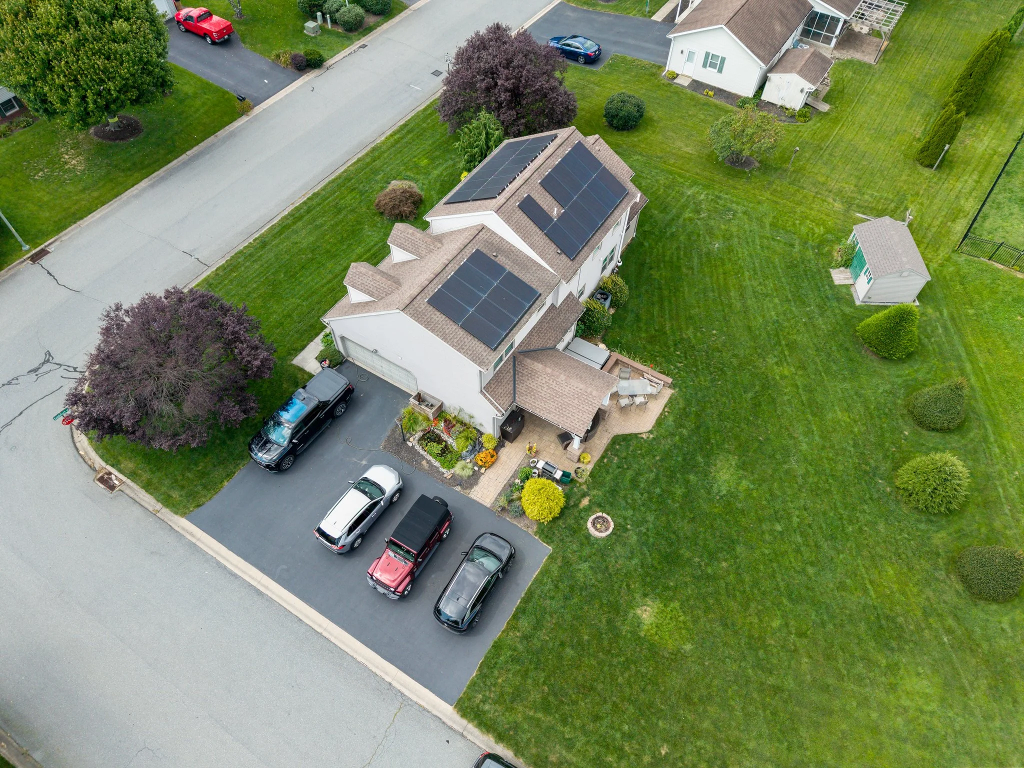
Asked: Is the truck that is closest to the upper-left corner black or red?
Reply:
red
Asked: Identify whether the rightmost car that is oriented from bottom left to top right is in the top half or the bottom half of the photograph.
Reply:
bottom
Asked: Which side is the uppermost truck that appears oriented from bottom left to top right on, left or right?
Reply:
left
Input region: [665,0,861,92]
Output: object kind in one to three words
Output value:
house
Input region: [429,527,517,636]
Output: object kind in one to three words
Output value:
car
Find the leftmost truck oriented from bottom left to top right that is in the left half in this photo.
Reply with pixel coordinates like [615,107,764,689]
[244,369,354,474]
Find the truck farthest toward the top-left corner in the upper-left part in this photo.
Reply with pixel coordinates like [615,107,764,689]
[173,5,236,44]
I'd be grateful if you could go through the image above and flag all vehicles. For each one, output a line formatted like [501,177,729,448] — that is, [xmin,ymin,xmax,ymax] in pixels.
[542,31,602,63]
[314,463,403,556]
[468,749,510,768]
[244,369,354,474]
[173,5,236,44]
[429,527,517,636]
[364,498,452,600]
